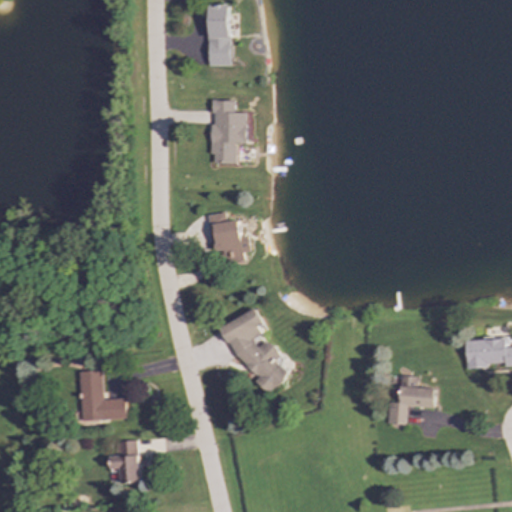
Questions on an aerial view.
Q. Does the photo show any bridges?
No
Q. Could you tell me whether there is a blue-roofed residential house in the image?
No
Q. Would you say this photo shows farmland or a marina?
marina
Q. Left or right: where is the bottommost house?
left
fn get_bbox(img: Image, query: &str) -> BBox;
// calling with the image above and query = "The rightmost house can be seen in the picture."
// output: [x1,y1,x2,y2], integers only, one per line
[465,328,512,371]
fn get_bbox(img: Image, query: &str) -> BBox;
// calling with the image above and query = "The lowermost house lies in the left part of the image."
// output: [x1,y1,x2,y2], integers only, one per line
[106,440,141,484]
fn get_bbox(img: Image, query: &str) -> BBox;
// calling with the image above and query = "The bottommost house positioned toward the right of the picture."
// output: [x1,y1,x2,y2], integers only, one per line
[390,374,438,426]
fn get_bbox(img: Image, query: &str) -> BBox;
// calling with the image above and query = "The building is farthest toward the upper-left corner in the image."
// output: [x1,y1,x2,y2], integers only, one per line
[208,4,242,67]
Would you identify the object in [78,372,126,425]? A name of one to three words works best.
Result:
house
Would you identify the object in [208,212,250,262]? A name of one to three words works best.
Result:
house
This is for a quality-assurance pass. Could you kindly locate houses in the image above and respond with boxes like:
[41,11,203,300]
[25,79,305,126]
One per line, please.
[106,440,141,484]
[465,328,512,371]
[208,212,250,262]
[208,4,242,67]
[222,308,292,391]
[78,372,126,425]
[206,100,254,165]
[390,374,438,426]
